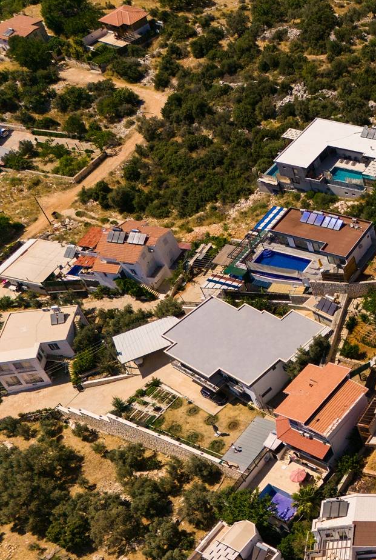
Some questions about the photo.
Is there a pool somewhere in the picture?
Yes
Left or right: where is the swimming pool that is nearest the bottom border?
right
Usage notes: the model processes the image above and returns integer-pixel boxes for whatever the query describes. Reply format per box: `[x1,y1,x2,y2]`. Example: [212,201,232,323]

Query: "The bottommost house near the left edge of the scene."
[0,304,93,393]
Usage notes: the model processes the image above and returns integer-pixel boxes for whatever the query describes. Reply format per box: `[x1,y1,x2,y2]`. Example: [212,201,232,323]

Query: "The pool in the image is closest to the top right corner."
[329,167,366,186]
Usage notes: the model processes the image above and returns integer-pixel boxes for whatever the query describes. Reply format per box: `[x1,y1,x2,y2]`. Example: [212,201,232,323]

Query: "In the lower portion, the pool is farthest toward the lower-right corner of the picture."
[261,485,292,523]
